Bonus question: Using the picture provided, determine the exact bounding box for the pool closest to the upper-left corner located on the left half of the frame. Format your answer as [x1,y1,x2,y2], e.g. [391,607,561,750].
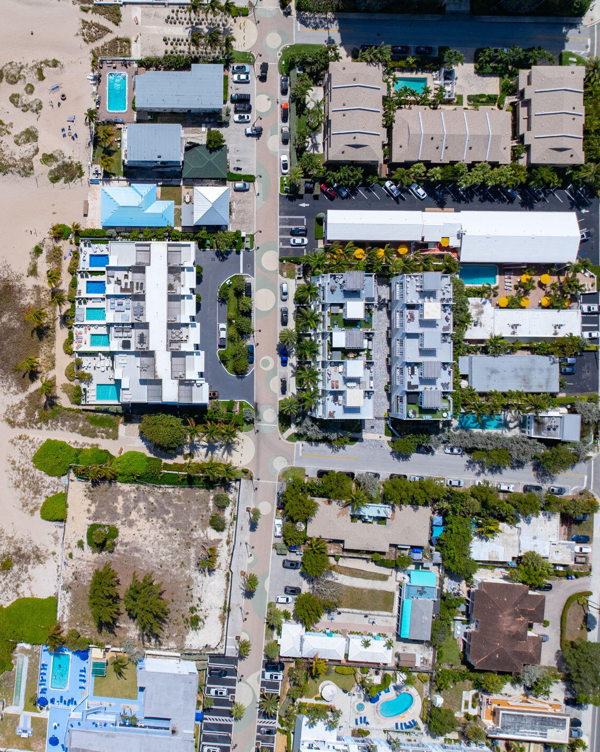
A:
[106,70,128,112]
